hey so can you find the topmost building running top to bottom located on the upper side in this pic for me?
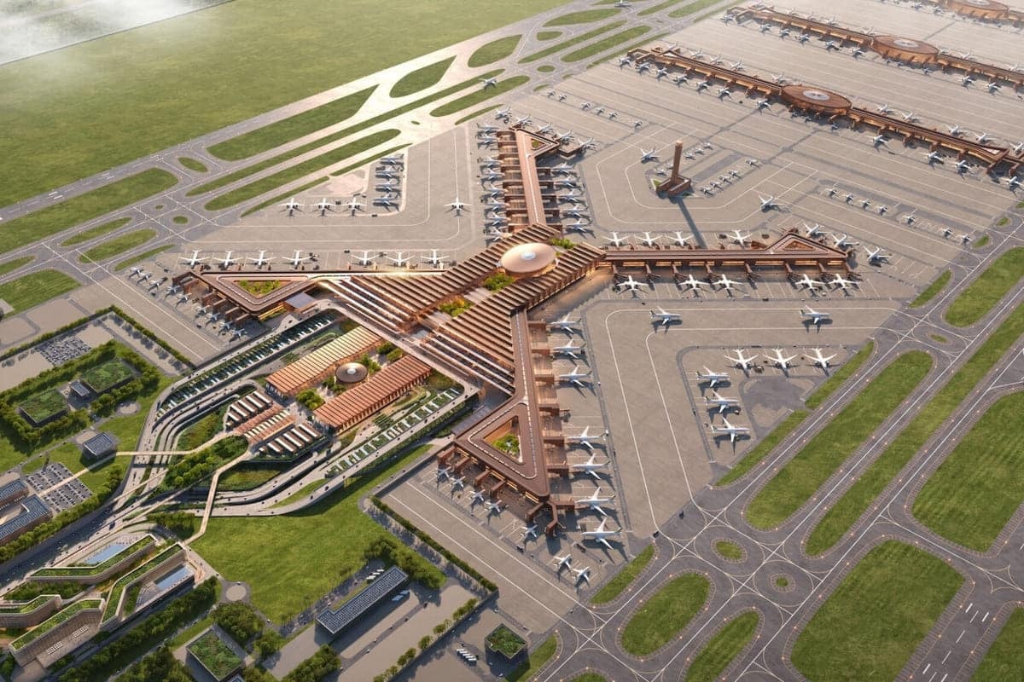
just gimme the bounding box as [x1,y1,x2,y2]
[655,134,691,202]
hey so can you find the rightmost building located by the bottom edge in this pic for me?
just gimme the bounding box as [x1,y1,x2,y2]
[485,623,527,666]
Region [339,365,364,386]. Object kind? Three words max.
building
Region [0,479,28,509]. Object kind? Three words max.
building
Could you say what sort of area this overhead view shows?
airport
